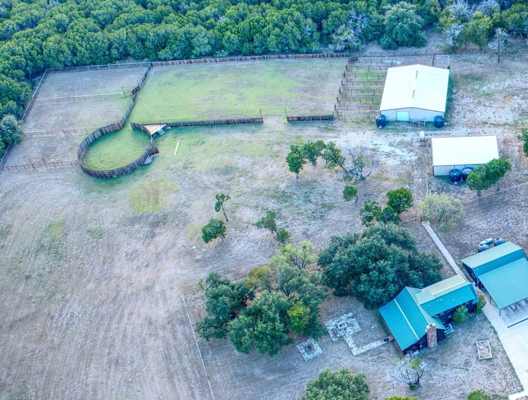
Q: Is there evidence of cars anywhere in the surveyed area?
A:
No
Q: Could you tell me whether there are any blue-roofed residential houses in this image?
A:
Yes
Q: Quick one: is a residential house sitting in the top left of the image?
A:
No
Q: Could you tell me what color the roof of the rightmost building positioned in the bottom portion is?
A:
blue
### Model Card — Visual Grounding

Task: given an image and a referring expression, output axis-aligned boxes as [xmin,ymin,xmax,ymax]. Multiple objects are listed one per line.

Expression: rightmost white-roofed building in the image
[433,136,499,174]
